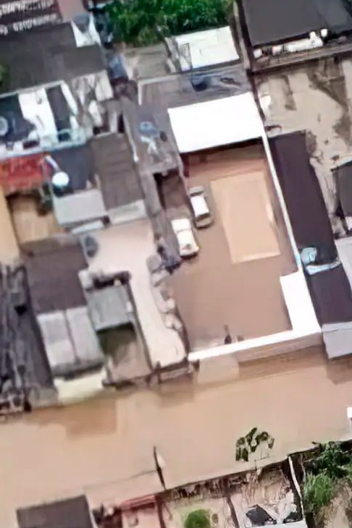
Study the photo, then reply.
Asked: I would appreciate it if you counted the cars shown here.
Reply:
2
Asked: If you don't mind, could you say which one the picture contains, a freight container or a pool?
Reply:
pool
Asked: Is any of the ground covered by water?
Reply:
Yes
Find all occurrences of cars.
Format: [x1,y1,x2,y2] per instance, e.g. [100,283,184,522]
[188,189,216,231]
[170,220,201,265]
